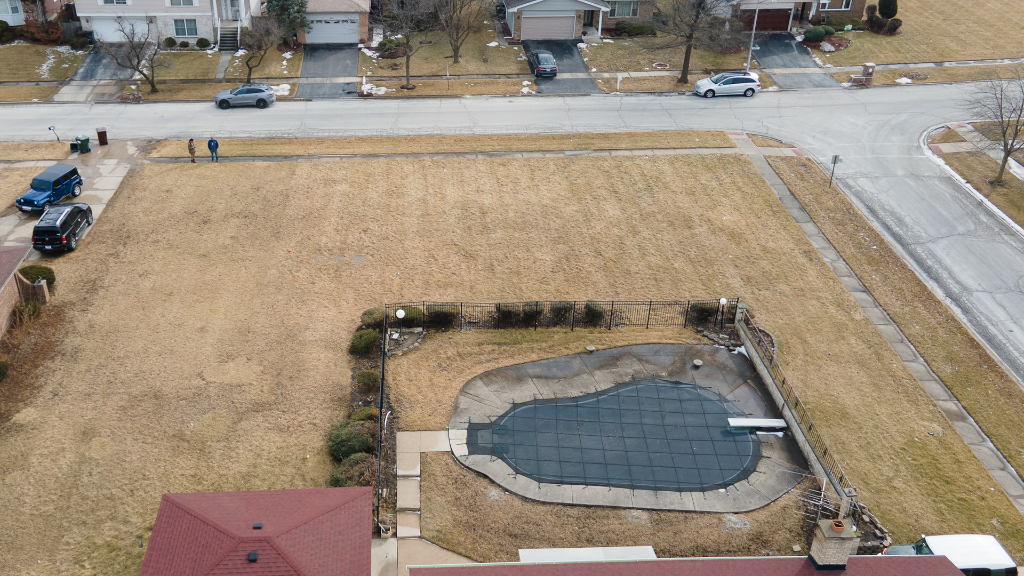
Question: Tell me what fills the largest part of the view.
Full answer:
Most of the picture is covered by grass.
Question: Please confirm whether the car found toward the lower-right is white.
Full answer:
Yes, white is the color of the car found toward the lower-right.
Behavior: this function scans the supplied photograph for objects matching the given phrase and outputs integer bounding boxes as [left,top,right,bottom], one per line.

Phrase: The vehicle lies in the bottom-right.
[877,537,1020,576]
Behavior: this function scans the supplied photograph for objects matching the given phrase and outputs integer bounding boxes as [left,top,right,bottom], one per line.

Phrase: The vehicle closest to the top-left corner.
[14,163,86,213]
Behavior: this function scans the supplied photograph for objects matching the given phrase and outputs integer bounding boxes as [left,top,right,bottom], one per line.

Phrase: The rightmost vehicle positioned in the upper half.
[693,71,764,98]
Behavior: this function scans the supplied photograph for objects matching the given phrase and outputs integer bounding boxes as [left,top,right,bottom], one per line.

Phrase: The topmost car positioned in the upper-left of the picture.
[214,82,276,109]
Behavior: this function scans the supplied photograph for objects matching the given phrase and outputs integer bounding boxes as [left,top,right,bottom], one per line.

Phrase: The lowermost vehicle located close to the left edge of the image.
[30,204,92,255]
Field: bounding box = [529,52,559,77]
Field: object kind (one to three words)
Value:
car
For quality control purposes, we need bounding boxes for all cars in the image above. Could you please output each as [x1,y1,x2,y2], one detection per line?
[693,71,764,98]
[214,82,276,109]
[877,537,1020,576]
[529,52,559,77]
[14,163,86,213]
[30,204,92,255]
